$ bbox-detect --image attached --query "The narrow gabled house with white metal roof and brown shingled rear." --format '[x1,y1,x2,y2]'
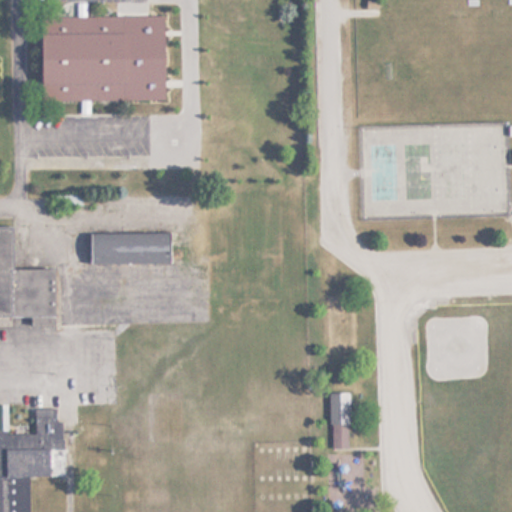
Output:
[331,392,352,450]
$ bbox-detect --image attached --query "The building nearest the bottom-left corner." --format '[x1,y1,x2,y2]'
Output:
[0,408,66,512]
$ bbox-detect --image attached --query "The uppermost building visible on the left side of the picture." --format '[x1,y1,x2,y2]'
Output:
[43,0,168,117]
